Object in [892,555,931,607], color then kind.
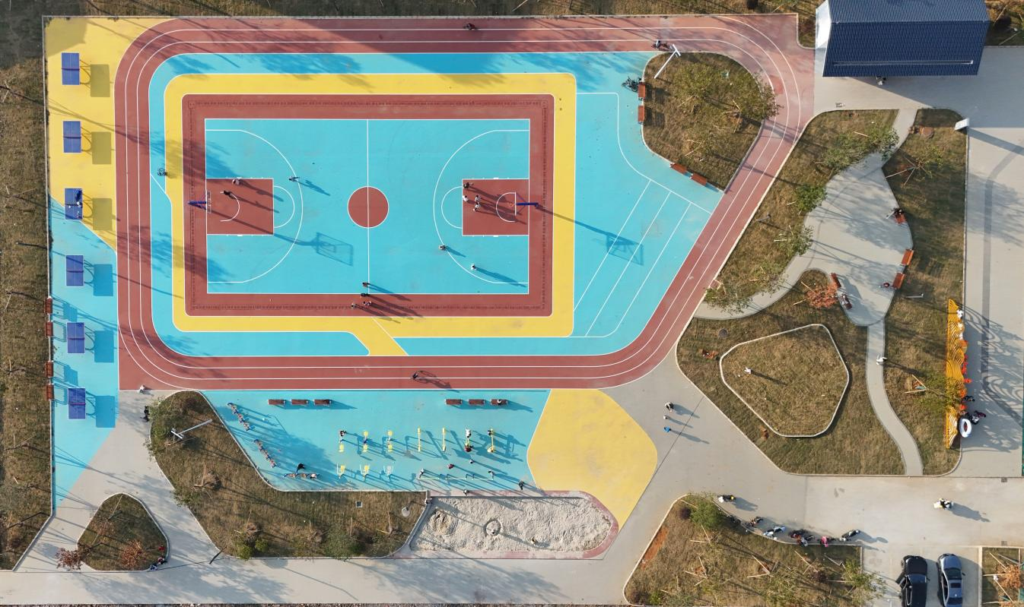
black car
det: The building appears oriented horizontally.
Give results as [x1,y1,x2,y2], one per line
[816,0,989,76]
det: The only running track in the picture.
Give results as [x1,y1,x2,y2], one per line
[114,14,814,392]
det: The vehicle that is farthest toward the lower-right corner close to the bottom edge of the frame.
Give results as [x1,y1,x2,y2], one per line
[934,554,966,607]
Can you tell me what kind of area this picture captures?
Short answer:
sports ground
